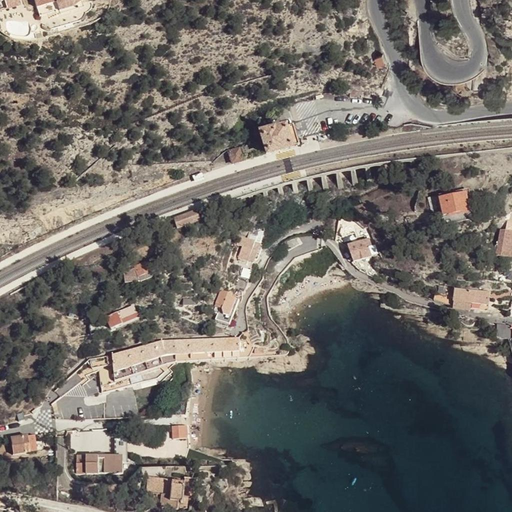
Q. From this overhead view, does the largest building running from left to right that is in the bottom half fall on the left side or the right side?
left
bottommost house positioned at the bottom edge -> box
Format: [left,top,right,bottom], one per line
[147,476,191,510]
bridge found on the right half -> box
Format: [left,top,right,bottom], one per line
[220,146,512,200]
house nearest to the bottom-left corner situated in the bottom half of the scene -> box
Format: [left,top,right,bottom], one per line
[10,434,38,456]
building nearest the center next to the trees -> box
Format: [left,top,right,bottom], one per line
[238,230,263,282]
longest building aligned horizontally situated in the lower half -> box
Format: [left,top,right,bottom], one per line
[82,338,241,390]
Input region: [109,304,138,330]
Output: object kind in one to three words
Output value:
house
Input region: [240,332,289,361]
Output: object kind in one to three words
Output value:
building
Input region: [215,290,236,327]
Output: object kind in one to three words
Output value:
house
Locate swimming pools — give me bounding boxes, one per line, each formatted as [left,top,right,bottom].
[6,21,30,36]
